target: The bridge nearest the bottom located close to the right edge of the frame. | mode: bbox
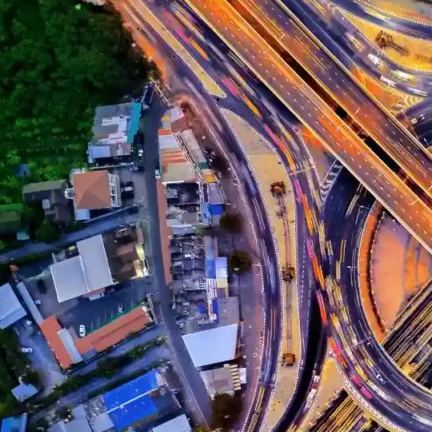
[329,336,432,432]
